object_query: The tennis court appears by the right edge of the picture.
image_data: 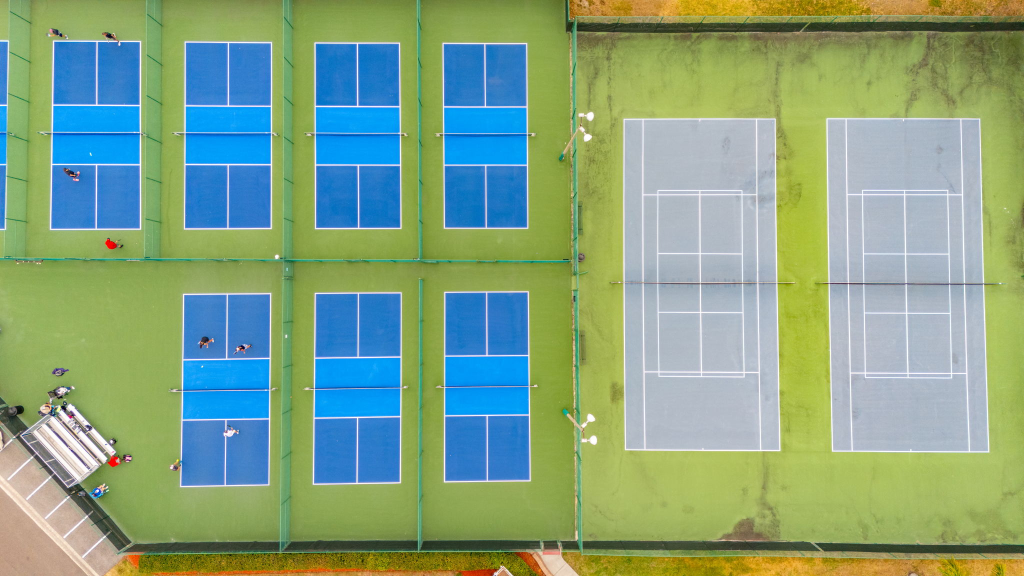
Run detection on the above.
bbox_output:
[827,118,989,452]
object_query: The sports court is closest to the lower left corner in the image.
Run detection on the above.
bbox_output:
[181,294,271,486]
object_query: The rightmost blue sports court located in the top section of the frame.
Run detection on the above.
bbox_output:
[443,43,528,229]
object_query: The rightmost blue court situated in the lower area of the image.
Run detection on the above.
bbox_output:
[445,292,529,482]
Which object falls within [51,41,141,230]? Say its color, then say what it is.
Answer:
blue sports court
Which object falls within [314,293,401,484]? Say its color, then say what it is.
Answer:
blue sports court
